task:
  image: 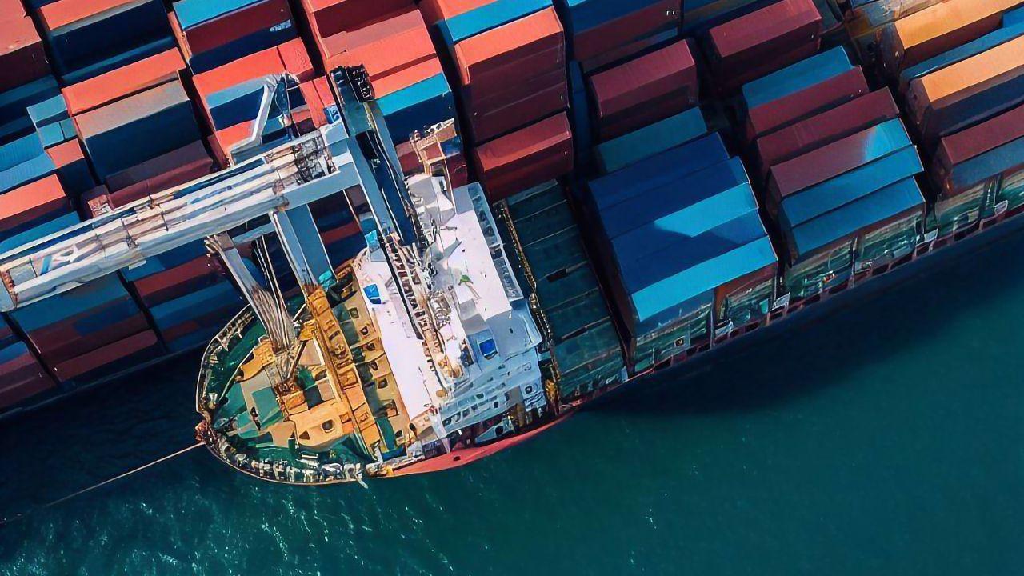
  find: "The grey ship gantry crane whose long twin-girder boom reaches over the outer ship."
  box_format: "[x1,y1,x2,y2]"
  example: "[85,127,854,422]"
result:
[0,45,464,472]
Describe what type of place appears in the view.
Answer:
port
